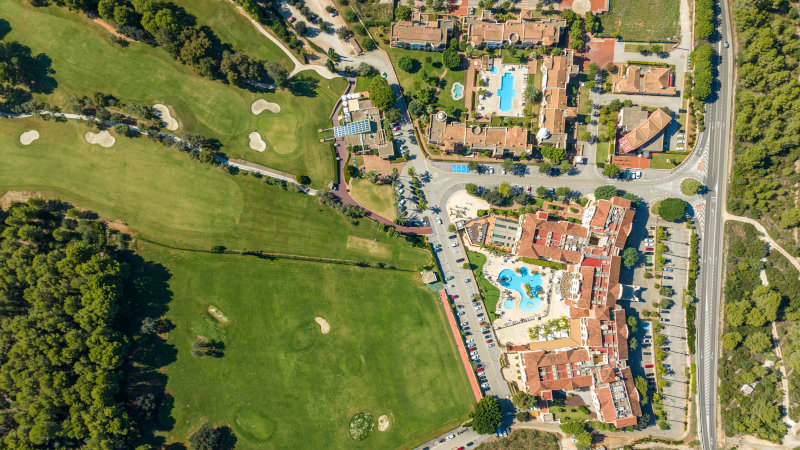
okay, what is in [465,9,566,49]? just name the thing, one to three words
building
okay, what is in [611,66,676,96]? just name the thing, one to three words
house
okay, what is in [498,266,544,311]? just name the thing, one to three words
swimming pool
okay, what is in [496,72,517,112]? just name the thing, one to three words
swimming pool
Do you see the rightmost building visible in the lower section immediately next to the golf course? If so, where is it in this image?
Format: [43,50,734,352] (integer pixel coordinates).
[505,196,642,428]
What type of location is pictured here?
golf course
